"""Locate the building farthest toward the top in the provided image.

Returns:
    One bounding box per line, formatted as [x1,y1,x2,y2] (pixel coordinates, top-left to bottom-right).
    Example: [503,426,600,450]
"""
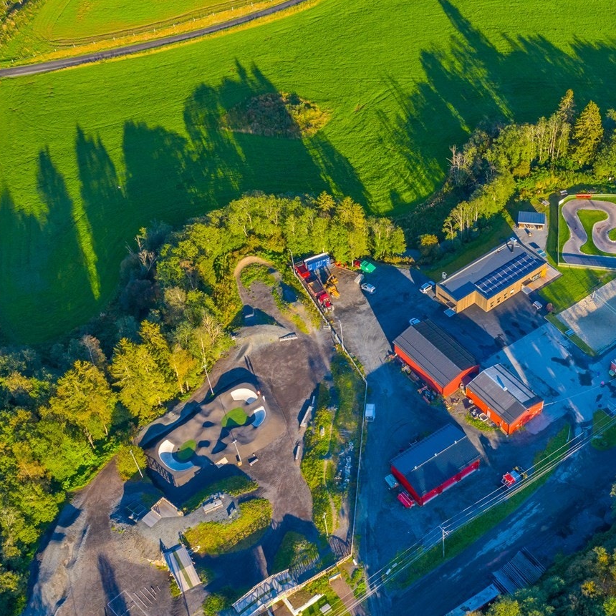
[518,211,546,231]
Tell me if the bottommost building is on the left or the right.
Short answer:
right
